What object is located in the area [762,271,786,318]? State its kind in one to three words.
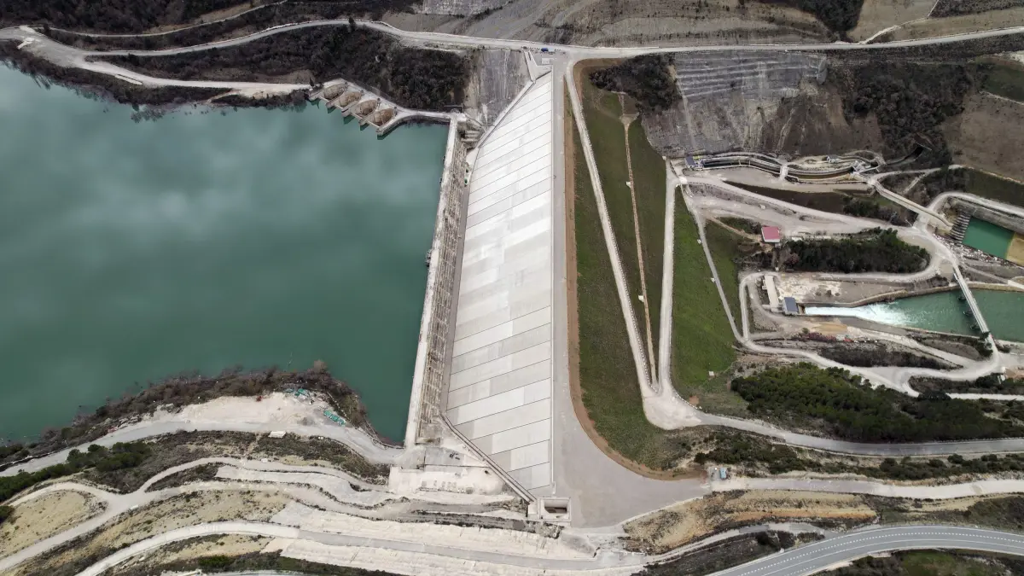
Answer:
building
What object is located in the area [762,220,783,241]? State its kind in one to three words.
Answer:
house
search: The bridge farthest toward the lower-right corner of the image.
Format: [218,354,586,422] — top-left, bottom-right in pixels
[947,263,997,347]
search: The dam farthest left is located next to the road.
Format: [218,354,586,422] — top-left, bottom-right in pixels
[406,119,464,445]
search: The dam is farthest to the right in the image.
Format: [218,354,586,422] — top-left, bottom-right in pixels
[439,52,761,526]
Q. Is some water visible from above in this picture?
Yes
